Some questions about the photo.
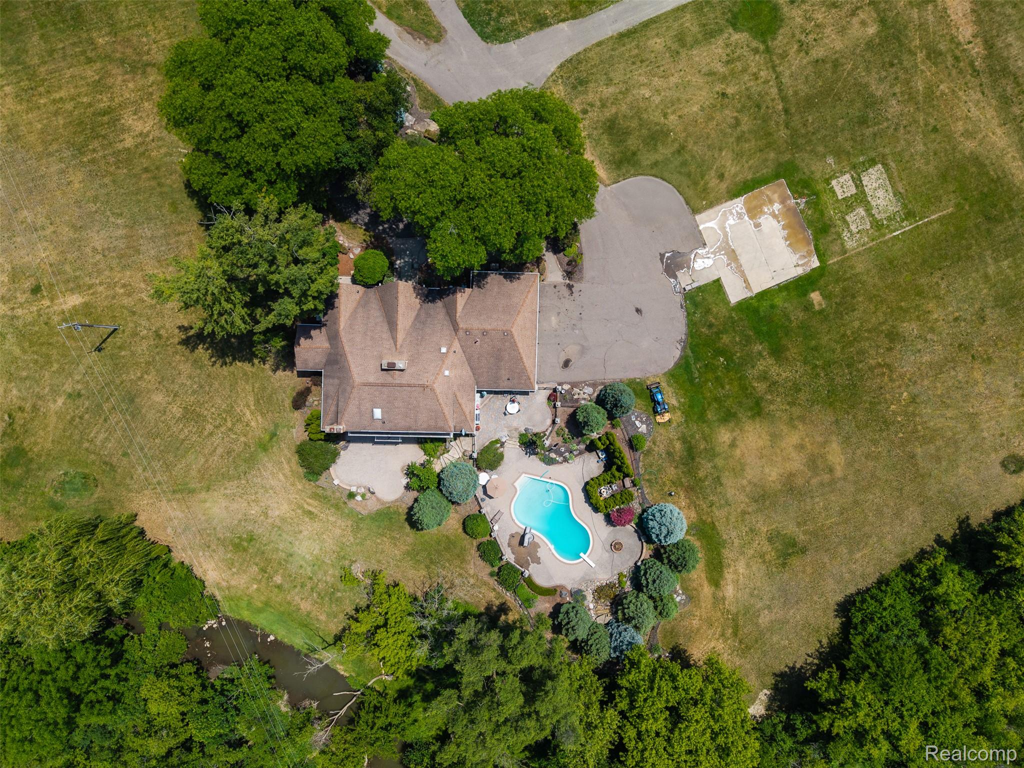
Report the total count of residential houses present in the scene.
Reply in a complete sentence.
The count comes to 1 residential house.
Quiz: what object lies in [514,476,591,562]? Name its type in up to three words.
swimming pool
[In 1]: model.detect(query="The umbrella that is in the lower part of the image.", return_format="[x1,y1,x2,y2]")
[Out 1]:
[487,477,507,498]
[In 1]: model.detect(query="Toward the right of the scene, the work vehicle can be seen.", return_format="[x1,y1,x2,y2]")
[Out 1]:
[650,381,672,425]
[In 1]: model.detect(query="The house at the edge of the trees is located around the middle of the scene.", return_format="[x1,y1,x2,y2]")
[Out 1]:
[294,271,540,442]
